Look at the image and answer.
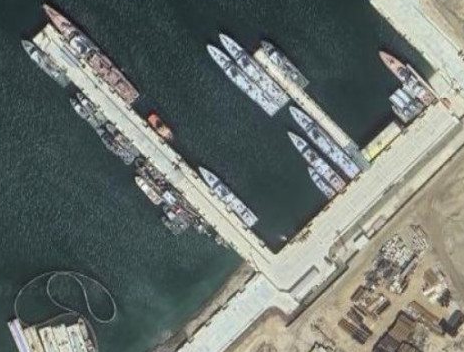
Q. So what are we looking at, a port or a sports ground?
port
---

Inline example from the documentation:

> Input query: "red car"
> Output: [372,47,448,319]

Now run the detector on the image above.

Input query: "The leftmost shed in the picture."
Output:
[291,270,322,302]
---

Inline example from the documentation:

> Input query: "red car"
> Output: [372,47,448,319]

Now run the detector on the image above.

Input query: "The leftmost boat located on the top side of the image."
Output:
[22,39,71,88]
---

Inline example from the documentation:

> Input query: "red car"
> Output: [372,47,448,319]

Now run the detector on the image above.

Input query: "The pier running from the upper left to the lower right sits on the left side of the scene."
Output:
[32,24,274,284]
